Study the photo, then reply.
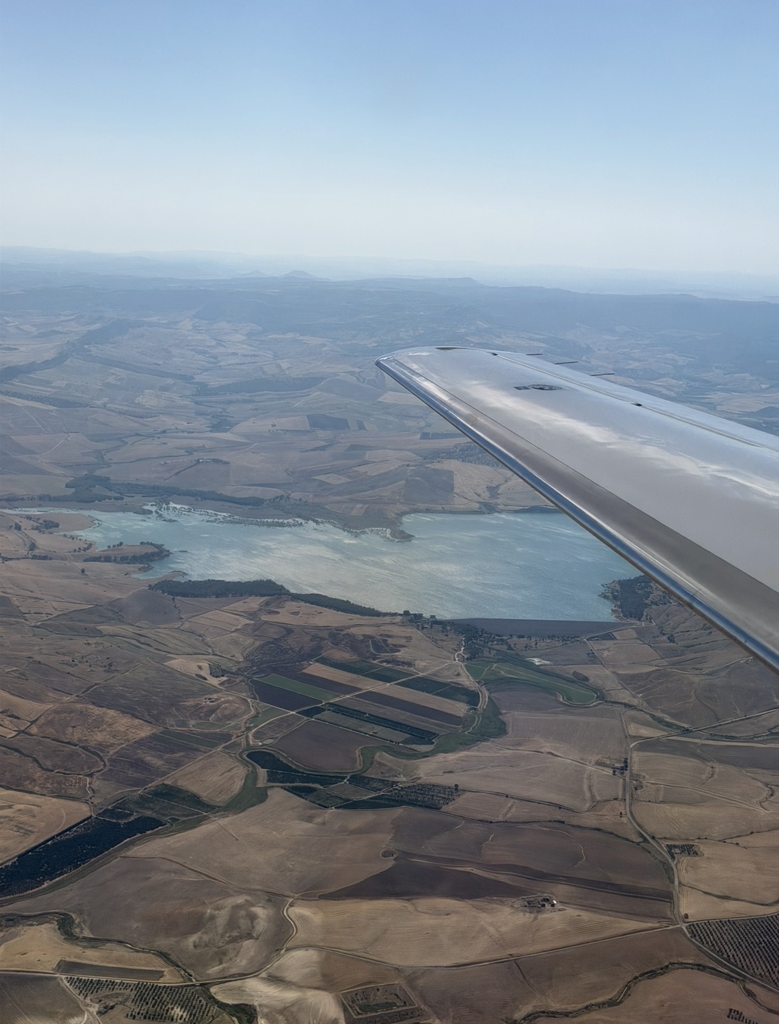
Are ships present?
No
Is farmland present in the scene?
Yes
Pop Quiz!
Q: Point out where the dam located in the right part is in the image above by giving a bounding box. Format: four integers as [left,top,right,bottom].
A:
[434,618,629,636]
